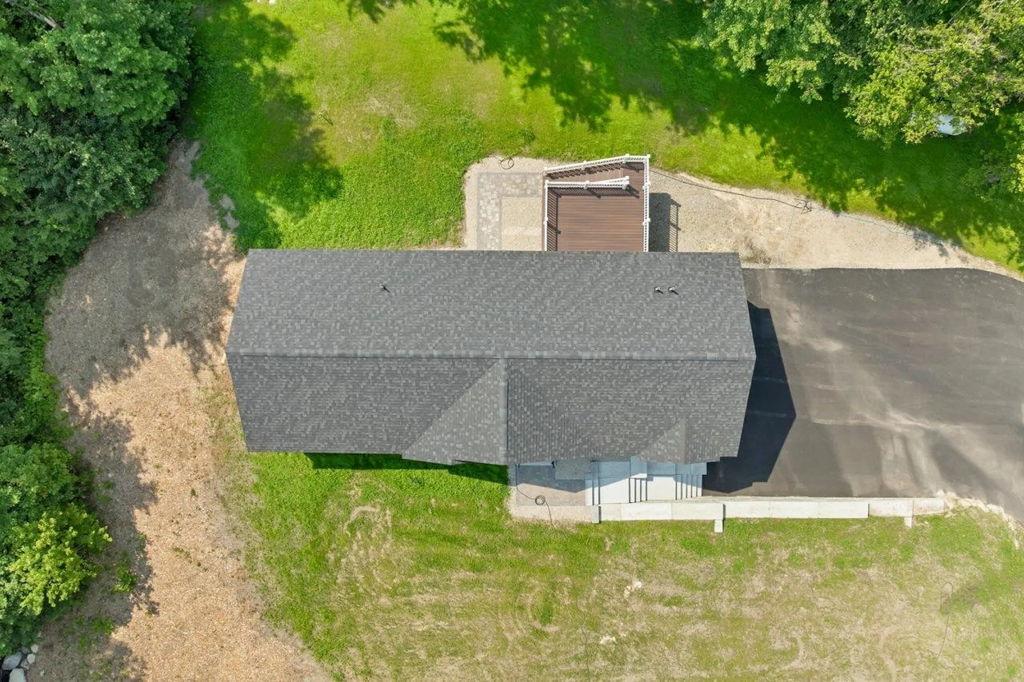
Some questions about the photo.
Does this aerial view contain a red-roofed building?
No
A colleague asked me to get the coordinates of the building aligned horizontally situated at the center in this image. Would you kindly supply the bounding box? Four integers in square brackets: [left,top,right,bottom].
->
[226,249,757,465]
